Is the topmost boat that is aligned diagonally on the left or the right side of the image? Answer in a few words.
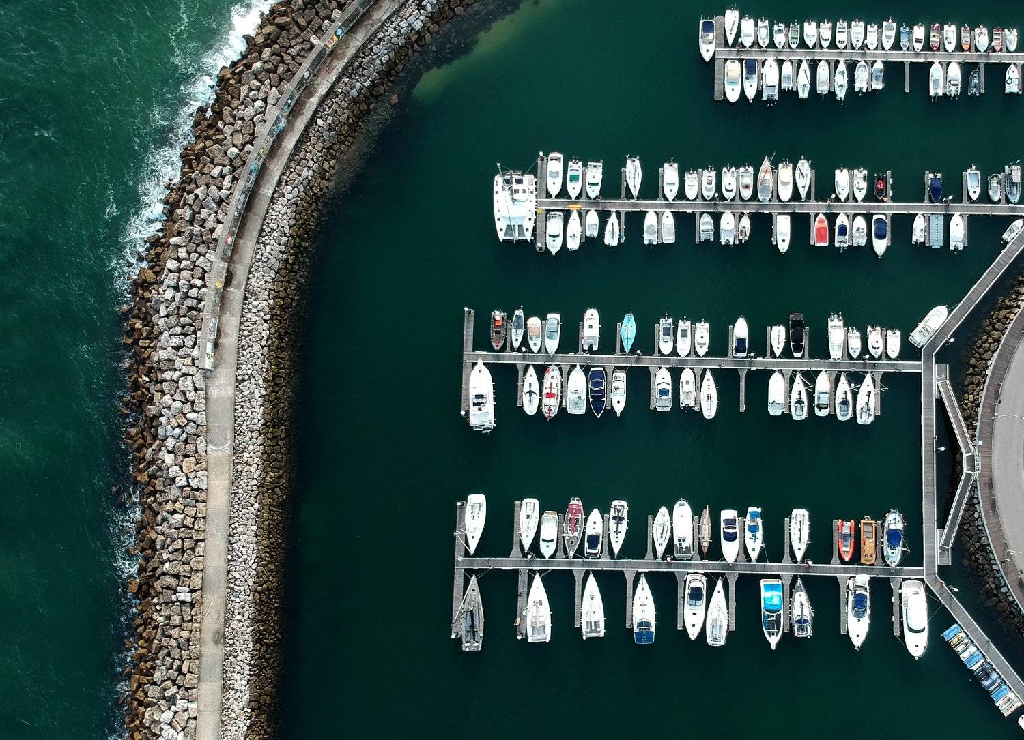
right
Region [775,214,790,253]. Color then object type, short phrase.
white boat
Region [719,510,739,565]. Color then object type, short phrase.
white boat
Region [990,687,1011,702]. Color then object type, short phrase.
blue boat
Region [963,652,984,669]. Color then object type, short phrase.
blue boat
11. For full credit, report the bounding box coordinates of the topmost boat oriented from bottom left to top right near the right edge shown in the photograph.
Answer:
[1000,219,1024,245]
